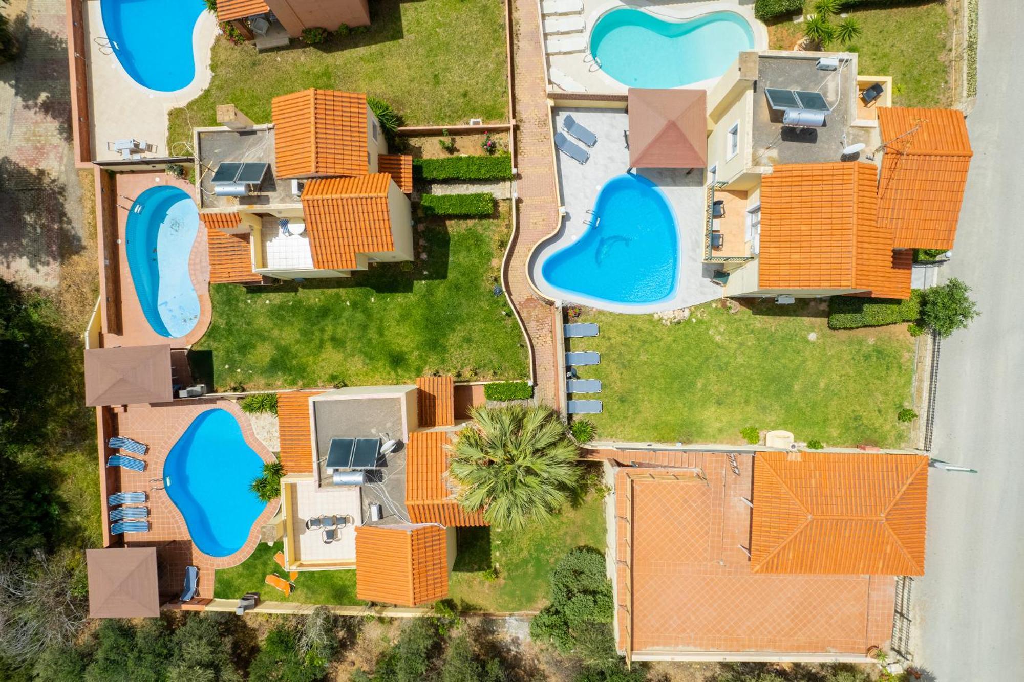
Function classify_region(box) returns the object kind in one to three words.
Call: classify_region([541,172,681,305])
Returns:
swimming pool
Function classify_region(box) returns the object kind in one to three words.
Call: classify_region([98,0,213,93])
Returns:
swimming pool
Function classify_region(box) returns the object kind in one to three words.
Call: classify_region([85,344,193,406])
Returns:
gazebo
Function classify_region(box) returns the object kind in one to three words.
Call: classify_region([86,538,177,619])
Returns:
gazebo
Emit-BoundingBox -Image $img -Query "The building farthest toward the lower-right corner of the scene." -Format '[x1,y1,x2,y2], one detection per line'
[739,451,925,577]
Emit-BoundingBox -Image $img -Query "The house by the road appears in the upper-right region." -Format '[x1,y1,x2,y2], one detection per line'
[702,49,978,300]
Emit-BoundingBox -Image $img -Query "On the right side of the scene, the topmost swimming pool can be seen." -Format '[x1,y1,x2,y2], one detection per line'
[588,5,757,89]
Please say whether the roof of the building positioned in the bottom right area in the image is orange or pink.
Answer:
orange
